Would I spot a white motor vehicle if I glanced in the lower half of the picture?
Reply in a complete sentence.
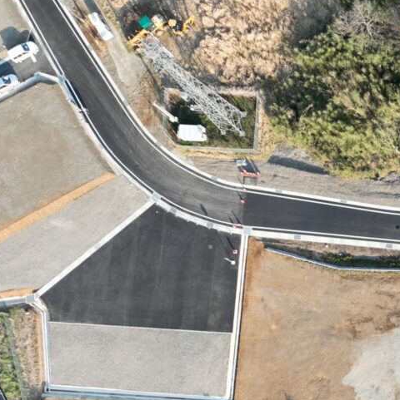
No, looking in the lower half of the picture, there is no white motor vehicle.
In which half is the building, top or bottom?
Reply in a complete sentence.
The top half of the photo is where the building is.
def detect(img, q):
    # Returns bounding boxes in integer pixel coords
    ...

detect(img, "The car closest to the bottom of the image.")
[0,74,23,94]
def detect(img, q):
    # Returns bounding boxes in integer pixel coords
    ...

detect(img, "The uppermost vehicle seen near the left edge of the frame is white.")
[7,45,45,66]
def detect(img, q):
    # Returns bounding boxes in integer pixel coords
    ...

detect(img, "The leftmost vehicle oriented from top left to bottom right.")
[91,14,116,46]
